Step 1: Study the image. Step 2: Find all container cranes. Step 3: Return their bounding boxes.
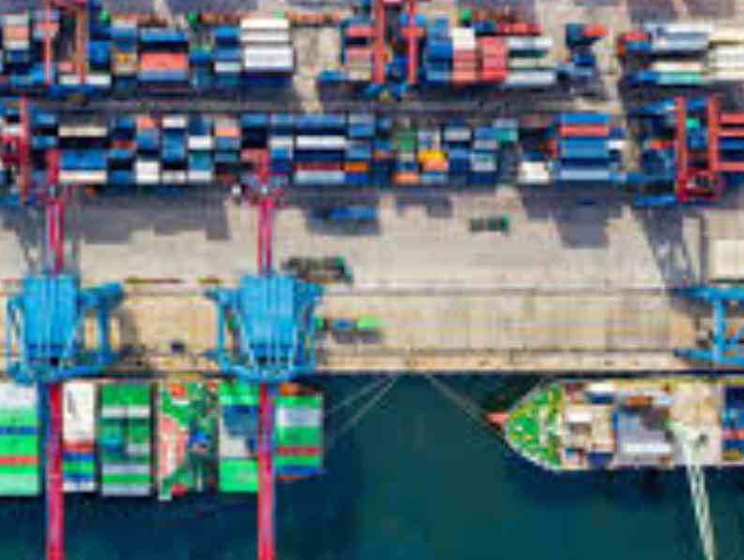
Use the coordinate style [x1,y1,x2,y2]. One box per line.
[679,289,744,369]
[8,151,125,560]
[0,95,47,209]
[43,0,101,96]
[355,0,419,95]
[202,151,316,560]
[636,94,720,208]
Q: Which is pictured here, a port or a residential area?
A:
port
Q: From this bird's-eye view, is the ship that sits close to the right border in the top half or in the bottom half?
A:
bottom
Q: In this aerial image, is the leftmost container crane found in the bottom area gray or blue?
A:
blue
